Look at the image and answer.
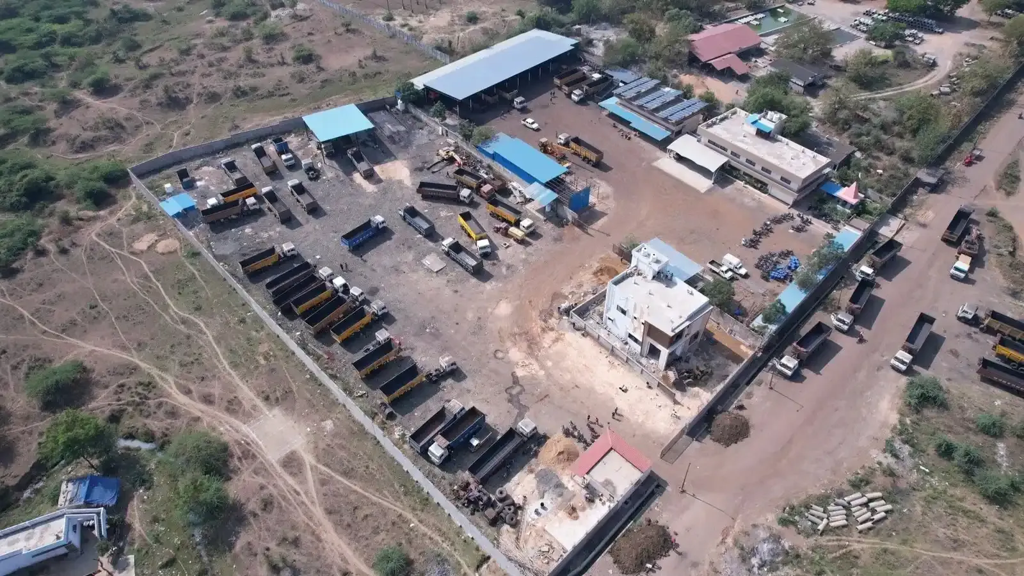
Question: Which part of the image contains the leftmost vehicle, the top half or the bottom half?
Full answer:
It is in the top half that the leftmost vehicle appears.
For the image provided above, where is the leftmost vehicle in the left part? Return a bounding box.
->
[175,167,196,192]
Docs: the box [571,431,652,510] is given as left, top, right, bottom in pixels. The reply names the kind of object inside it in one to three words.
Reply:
building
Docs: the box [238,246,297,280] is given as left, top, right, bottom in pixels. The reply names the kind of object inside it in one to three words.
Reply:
truck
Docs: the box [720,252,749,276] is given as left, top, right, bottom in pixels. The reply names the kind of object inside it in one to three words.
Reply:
vehicle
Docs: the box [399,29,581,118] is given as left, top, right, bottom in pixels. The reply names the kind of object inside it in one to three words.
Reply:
shed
